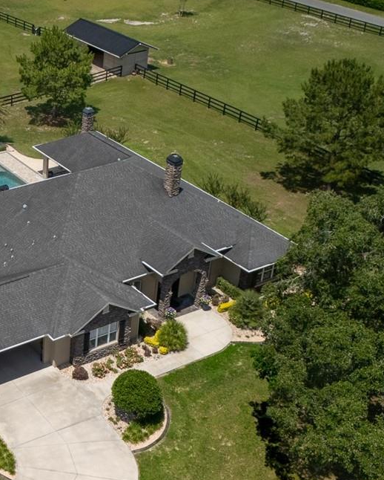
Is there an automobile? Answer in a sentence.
No, the picture doesn't show any automobile.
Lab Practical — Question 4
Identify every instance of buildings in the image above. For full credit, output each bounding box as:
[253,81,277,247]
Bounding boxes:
[73,23,159,77]
[0,104,307,372]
